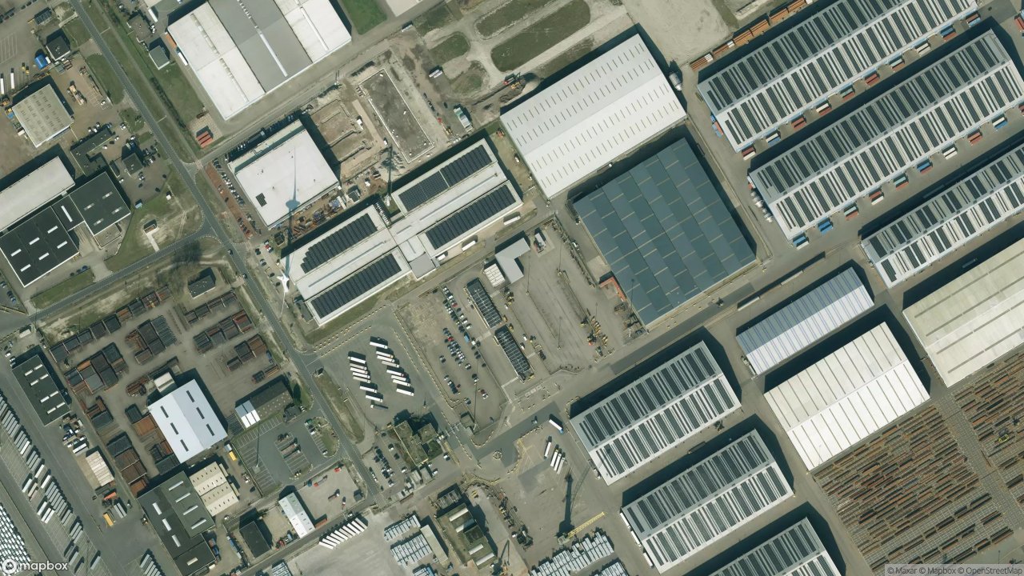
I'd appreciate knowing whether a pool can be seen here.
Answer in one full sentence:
No, this view has no pool in it.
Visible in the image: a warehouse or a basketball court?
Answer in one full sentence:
The one in the frame is a warehouse.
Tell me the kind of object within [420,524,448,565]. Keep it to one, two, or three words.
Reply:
shed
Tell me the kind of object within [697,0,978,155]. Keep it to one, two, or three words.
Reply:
warehouse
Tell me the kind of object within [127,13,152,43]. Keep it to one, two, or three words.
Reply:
house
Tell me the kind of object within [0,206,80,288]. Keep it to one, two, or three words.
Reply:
building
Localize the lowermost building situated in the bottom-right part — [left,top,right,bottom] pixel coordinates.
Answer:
[705,517,841,576]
